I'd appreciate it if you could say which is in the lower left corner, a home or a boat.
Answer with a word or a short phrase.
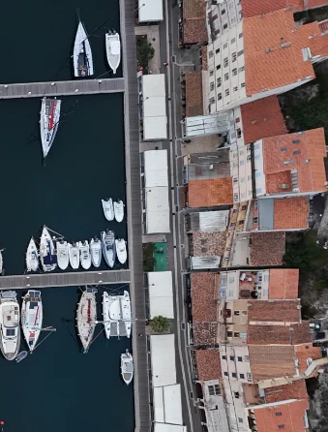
boat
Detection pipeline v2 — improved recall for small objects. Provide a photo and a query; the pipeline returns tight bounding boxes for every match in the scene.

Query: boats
[100,229,116,268]
[14,351,26,363]
[0,289,21,361]
[90,237,101,268]
[21,289,57,353]
[55,239,68,274]
[67,240,80,271]
[119,348,134,391]
[78,288,119,352]
[38,226,67,274]
[72,14,112,79]
[0,248,9,276]
[38,98,77,157]
[103,30,121,79]
[79,239,91,272]
[115,237,127,269]
[25,237,45,274]
[102,292,147,339]
[113,198,125,231]
[101,196,114,228]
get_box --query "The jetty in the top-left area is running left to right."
[0,79,124,99]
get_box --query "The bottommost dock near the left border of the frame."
[0,270,130,290]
